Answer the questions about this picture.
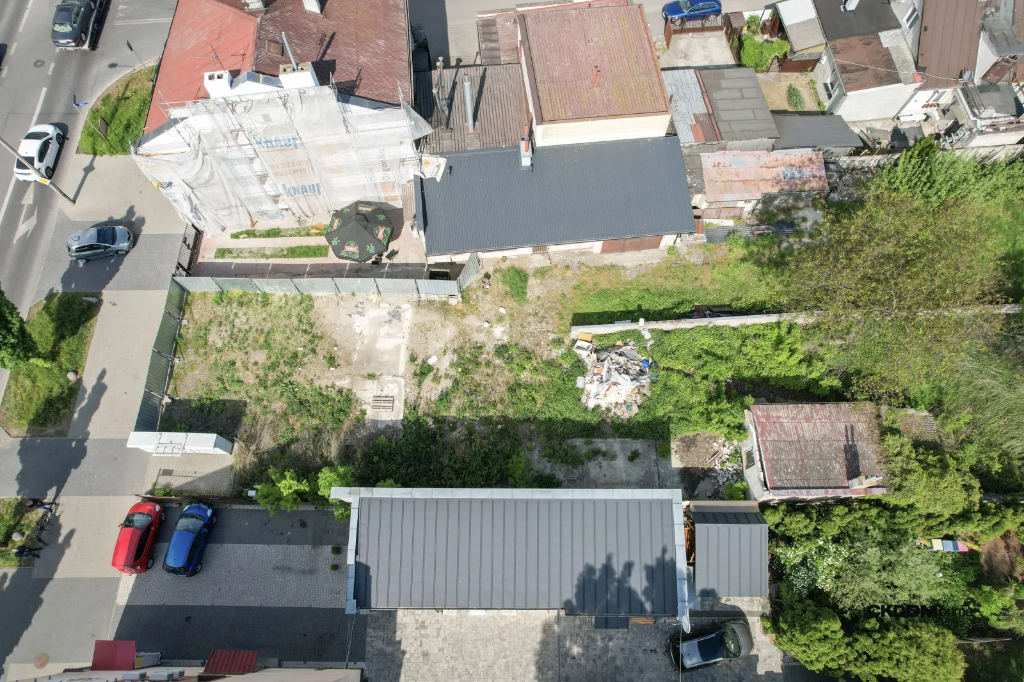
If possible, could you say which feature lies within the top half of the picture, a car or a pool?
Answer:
car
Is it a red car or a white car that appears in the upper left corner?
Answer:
white car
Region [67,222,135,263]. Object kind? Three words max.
car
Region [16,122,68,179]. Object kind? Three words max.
car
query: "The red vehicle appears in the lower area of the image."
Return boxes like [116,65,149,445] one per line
[114,499,168,572]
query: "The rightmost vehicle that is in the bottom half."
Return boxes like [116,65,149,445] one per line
[667,619,754,675]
